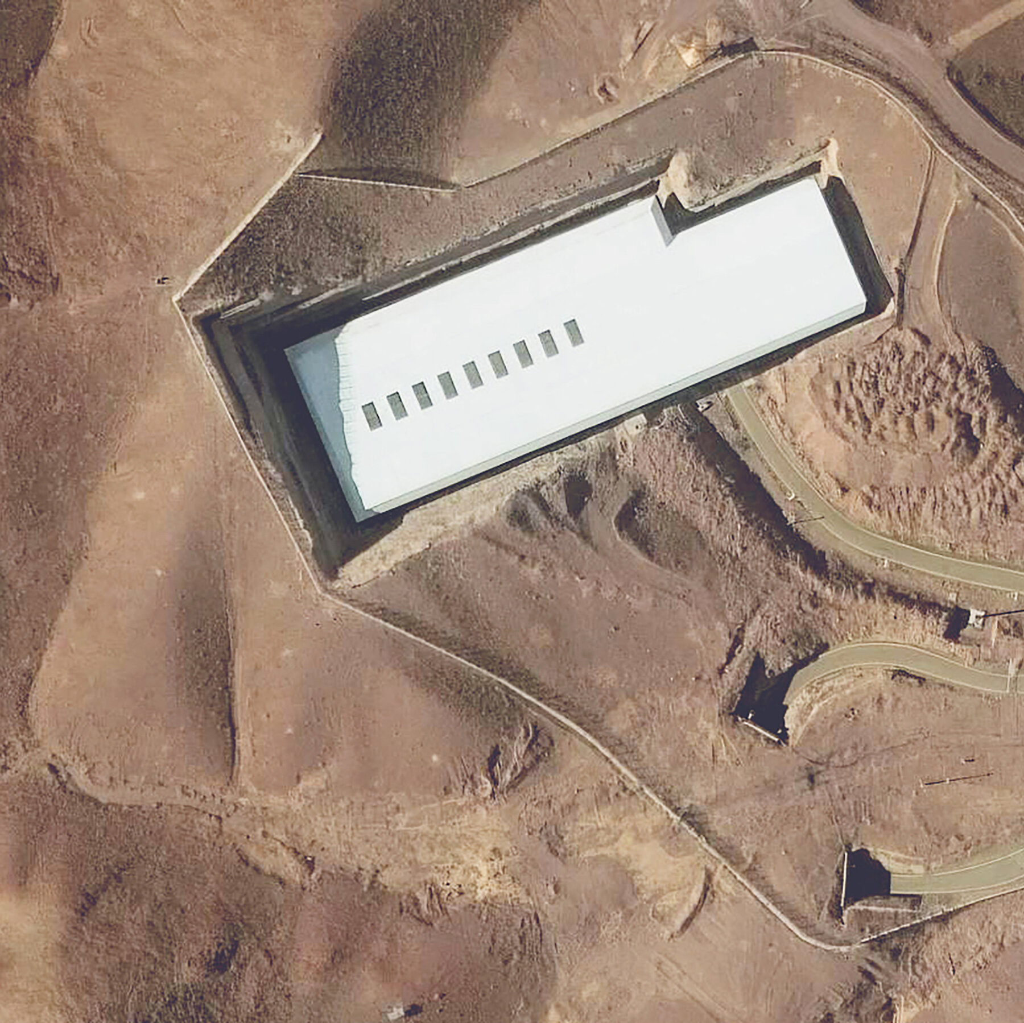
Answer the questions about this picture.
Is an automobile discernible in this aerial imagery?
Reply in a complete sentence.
No, there appears to be no automobile in this shot.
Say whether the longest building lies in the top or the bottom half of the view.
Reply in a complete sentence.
The longest building sits in the top half of the picture.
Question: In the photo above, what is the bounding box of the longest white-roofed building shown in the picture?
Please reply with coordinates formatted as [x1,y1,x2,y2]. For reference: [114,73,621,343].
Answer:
[285,178,865,522]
